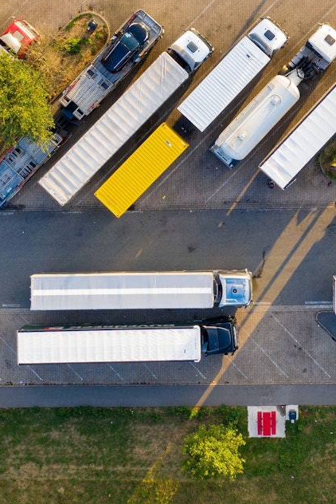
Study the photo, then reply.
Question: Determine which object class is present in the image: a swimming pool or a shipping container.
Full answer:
The image shows a shipping container.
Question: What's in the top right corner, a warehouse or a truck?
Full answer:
What appears in the top right corner is a truck.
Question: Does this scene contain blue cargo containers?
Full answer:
No, there isn't any blue cargo container down there.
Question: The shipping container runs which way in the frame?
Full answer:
I'd say the shipping container is aligned at an angle in the picture.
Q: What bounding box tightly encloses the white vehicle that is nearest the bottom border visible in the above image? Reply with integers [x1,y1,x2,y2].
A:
[17,318,239,365]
